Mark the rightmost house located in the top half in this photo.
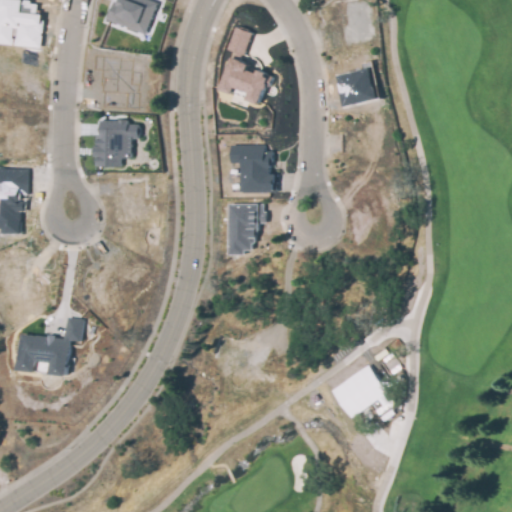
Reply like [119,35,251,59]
[336,64,384,110]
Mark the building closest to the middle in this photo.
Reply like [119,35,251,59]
[228,204,267,256]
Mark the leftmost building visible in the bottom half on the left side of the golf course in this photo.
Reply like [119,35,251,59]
[15,318,86,375]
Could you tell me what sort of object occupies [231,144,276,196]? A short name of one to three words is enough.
house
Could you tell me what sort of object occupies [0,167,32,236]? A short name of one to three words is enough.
house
